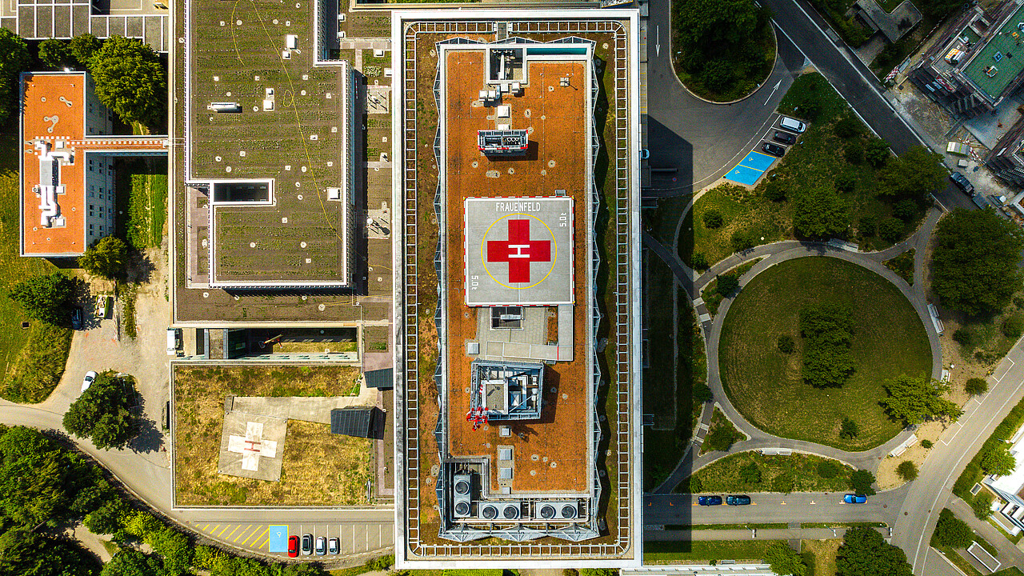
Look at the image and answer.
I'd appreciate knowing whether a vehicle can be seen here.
Yes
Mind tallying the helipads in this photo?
2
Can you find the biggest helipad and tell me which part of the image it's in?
center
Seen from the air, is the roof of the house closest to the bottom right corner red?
No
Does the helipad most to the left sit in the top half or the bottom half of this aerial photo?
bottom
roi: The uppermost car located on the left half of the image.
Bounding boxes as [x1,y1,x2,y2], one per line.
[72,308,84,330]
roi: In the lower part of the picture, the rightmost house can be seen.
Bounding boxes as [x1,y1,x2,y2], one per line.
[973,418,1024,541]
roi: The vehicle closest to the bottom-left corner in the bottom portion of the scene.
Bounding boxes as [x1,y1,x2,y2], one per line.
[81,370,98,392]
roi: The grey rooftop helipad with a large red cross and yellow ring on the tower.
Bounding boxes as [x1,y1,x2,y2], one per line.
[464,190,576,364]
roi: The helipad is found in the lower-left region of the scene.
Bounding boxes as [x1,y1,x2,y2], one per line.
[219,411,287,481]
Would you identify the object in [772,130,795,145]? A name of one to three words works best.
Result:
car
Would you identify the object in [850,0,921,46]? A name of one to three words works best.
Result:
house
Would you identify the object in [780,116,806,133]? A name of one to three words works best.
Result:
vehicle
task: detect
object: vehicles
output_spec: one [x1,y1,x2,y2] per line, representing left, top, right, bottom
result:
[780,116,806,133]
[698,495,722,506]
[772,130,795,145]
[328,536,338,554]
[288,535,299,556]
[165,329,178,357]
[843,493,867,504]
[81,370,98,392]
[951,173,975,195]
[301,533,312,555]
[761,142,784,157]
[725,494,750,506]
[72,308,84,330]
[315,536,325,555]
